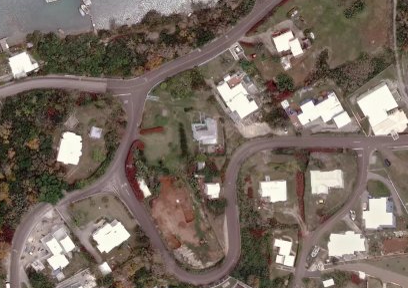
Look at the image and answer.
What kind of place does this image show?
residential area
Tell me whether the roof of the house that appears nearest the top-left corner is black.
No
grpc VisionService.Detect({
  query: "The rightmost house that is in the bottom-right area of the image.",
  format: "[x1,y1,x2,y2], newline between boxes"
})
[363,197,396,228]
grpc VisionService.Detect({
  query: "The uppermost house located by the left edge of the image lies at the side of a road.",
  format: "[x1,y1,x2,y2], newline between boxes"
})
[8,52,38,79]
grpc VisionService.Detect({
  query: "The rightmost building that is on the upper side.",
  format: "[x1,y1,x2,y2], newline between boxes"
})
[357,82,408,136]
